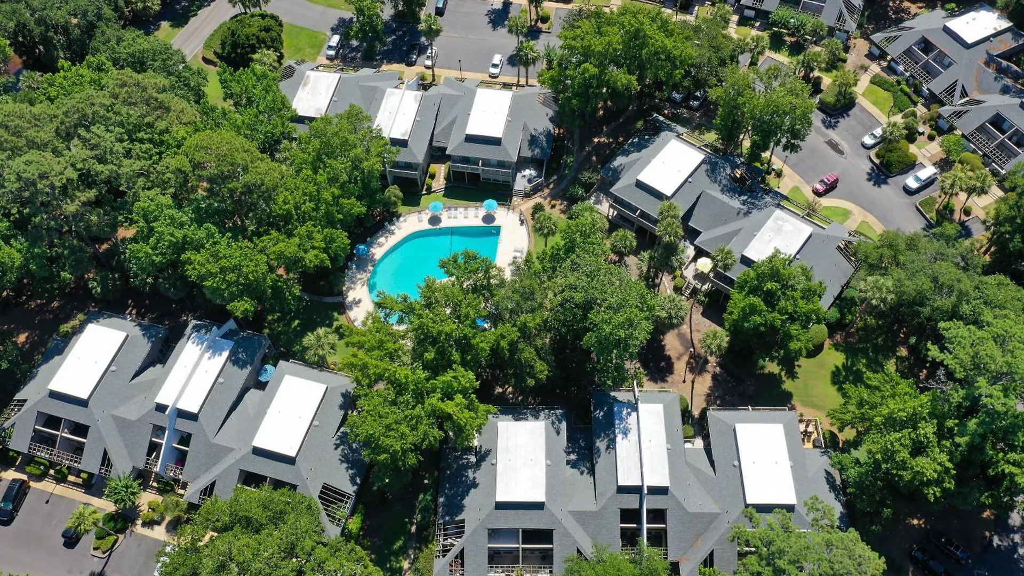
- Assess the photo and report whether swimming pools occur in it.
Yes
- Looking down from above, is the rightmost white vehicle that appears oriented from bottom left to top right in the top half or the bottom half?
top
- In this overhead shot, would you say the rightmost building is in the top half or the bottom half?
top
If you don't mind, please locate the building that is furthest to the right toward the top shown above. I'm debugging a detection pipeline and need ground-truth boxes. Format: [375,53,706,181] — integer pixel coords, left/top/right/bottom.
[870,5,1024,176]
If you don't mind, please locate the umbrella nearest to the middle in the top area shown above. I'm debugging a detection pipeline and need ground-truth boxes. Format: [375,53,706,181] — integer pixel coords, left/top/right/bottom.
[482,201,499,214]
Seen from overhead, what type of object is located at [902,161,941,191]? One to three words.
vehicle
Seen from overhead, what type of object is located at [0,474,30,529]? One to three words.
car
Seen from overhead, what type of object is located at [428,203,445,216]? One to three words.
umbrella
